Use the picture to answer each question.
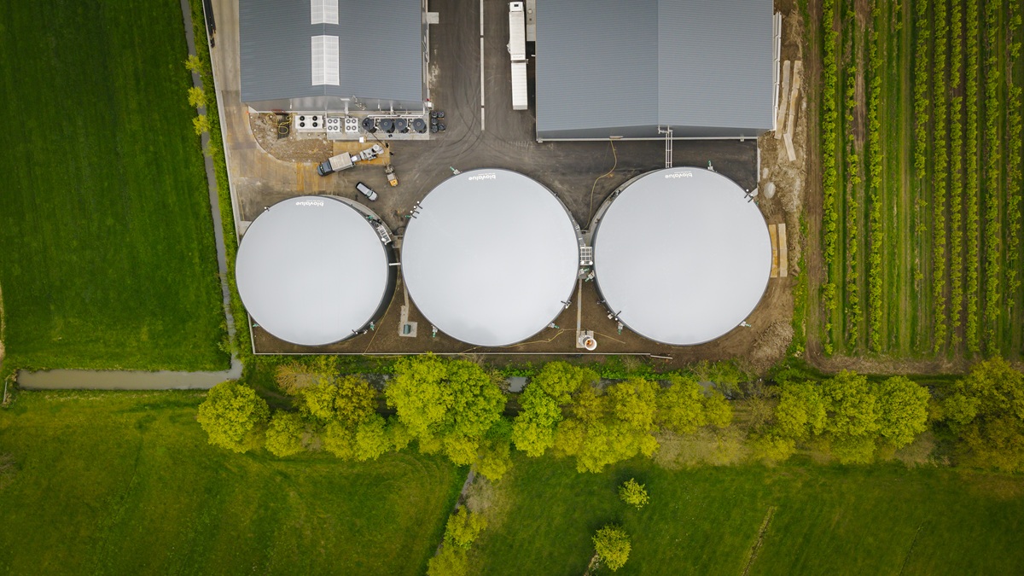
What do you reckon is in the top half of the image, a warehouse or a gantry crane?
warehouse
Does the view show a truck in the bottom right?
No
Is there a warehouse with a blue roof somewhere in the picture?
No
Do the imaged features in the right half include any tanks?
Yes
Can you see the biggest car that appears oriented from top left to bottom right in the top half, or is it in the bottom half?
top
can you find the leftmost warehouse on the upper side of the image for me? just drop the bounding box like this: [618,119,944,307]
[240,0,426,114]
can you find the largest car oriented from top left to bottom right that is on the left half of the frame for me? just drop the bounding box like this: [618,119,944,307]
[355,180,379,203]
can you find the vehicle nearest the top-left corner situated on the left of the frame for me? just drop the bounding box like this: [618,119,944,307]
[314,148,353,173]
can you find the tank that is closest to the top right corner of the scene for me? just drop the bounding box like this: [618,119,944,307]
[585,160,772,346]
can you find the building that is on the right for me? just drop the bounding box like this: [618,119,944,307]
[528,0,781,143]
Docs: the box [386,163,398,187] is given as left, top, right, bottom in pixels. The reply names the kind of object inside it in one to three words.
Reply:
vehicle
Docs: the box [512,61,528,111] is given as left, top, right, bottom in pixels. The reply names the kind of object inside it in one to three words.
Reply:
trailer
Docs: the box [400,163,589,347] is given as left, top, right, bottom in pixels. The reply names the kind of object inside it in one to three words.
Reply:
storage tank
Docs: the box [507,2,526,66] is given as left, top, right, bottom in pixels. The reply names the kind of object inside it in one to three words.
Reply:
vehicle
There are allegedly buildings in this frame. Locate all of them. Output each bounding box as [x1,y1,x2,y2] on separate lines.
[528,0,781,143]
[240,0,426,114]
